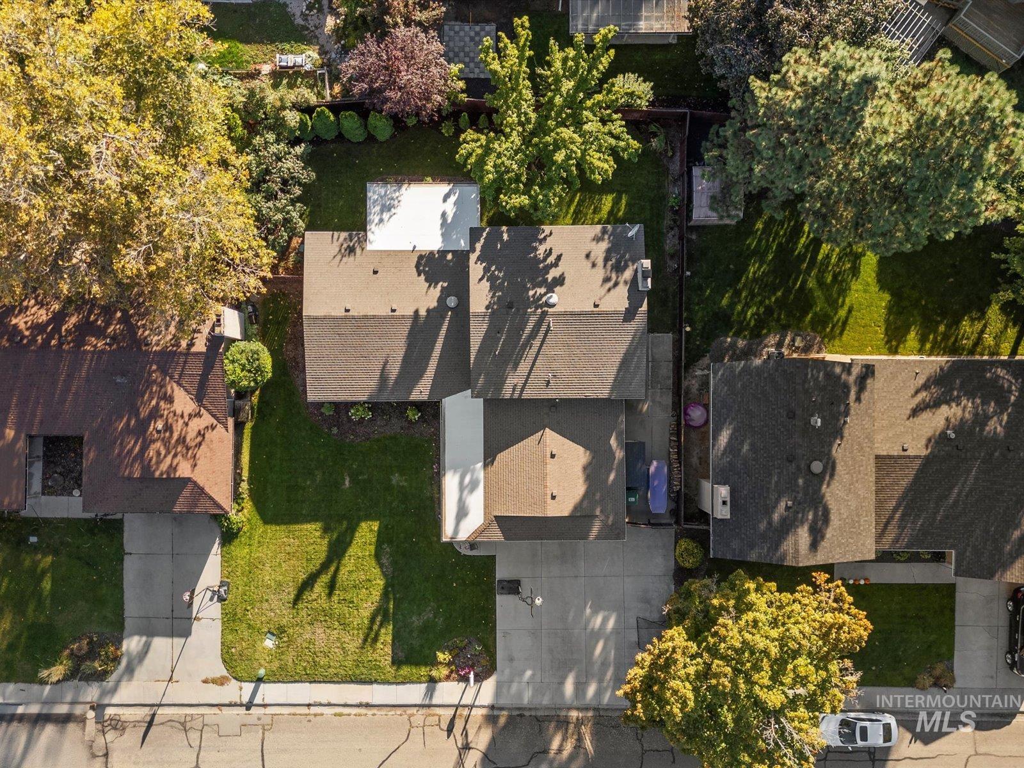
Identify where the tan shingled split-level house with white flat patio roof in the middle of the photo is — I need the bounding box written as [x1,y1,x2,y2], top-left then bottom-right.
[300,182,652,544]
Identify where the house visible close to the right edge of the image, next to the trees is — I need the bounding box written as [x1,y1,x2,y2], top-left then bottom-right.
[696,357,1024,580]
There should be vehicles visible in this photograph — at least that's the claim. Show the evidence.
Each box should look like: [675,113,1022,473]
[1007,586,1024,680]
[806,707,897,754]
